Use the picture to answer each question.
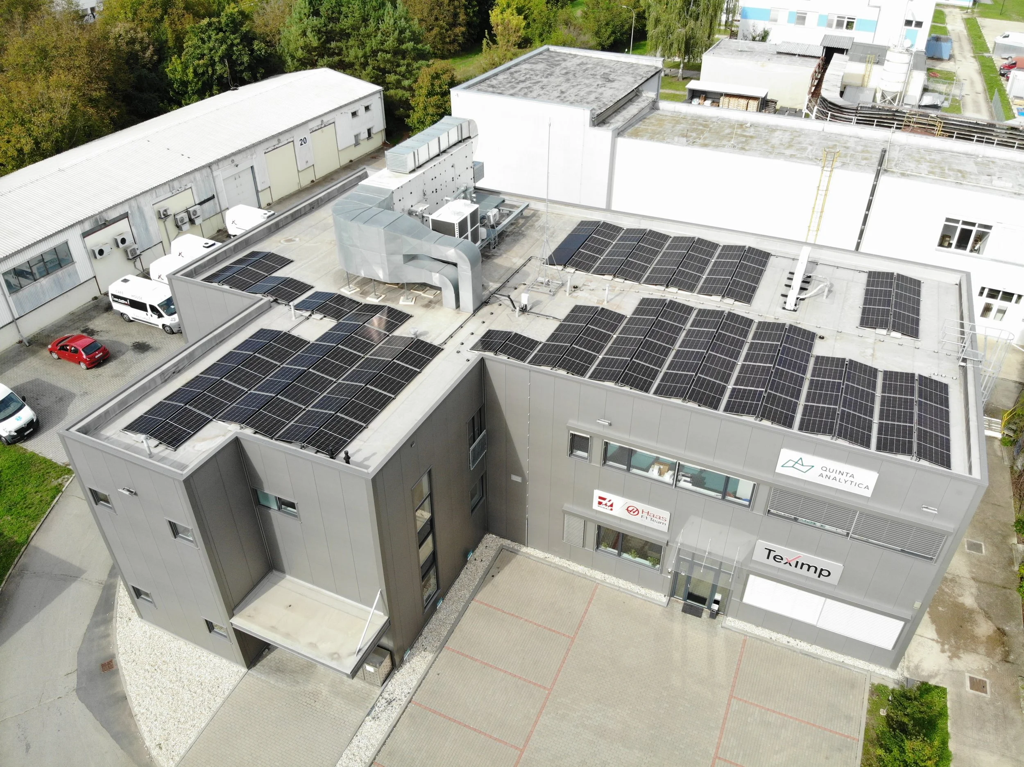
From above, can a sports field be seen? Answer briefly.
No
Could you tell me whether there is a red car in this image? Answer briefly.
Yes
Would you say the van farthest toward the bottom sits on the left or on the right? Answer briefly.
left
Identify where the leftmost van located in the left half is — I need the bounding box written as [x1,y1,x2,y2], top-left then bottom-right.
[0,391,42,445]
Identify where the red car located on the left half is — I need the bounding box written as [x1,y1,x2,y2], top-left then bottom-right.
[45,333,113,369]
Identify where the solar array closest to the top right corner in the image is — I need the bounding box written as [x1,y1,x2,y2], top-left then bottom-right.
[857,272,922,342]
